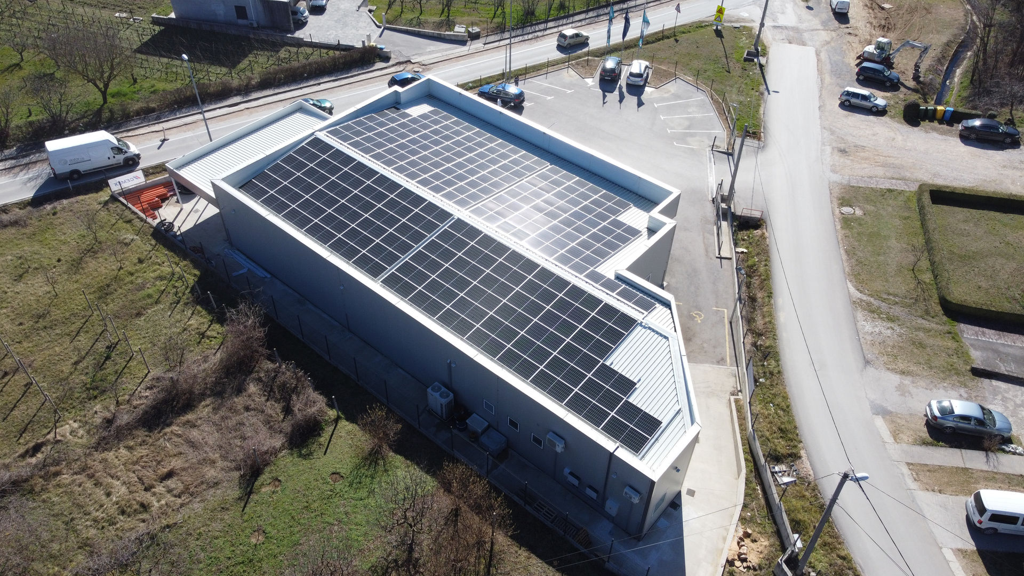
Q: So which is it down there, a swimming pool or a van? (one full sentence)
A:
Of the two, only a van appears.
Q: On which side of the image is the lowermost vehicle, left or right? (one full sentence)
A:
It is on the right.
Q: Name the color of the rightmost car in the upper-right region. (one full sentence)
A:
In this view, the rightmost car in the upper-right region is black.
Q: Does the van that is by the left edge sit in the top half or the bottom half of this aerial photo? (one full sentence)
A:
The top half of the photo is where the van that is by the left edge is.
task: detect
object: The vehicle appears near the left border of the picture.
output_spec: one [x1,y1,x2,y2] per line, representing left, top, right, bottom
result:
[43,132,140,180]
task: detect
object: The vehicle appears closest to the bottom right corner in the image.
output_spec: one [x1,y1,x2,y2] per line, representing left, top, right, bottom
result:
[964,489,1024,536]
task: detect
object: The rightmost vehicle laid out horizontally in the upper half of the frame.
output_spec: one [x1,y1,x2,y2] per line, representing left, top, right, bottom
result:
[960,117,1022,143]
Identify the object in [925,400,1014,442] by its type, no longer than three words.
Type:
car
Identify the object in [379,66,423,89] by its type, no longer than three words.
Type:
car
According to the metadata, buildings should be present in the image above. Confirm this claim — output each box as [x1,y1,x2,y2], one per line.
[166,74,702,542]
[166,0,295,30]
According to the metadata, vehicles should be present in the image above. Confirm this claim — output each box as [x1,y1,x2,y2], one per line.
[291,4,313,25]
[831,0,852,12]
[838,85,889,113]
[627,58,651,83]
[925,400,1014,442]
[477,82,528,108]
[854,60,901,87]
[43,132,140,180]
[853,35,931,81]
[379,66,423,89]
[285,96,335,113]
[601,54,625,79]
[964,489,1024,536]
[555,27,592,48]
[960,117,1022,143]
